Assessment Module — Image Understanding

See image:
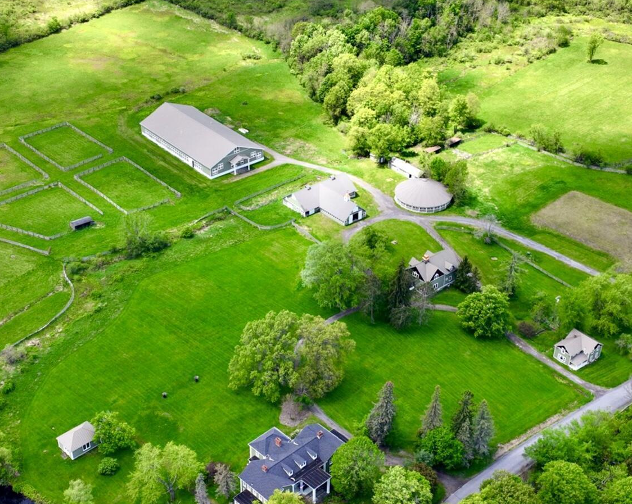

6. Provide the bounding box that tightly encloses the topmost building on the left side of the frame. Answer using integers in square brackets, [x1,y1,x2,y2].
[136,104,265,179]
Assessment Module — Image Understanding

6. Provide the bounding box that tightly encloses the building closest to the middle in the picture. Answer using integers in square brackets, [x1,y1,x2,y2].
[282,173,368,226]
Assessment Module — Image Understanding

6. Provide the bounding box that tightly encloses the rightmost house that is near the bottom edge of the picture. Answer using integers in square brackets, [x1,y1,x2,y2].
[229,424,344,504]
